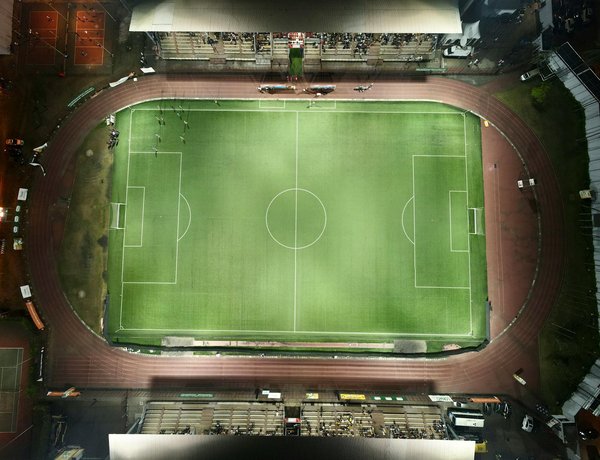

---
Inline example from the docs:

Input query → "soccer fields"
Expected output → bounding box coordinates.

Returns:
[106,100,488,355]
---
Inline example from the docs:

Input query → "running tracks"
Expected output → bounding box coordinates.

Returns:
[27,74,566,396]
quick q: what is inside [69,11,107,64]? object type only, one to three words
sports court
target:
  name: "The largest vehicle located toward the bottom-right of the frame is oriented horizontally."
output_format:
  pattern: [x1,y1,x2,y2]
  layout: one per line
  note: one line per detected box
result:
[452,415,489,429]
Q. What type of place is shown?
sports ground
